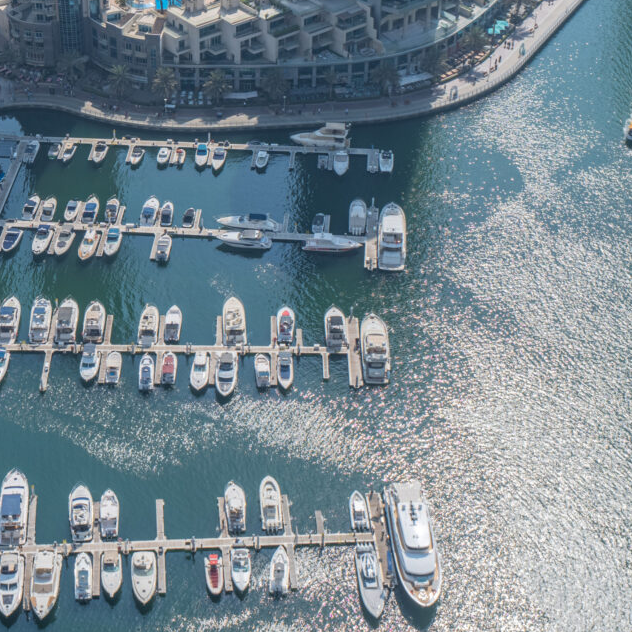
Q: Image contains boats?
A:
Yes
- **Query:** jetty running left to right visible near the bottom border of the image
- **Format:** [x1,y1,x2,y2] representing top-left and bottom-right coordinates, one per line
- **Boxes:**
[0,481,396,616]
